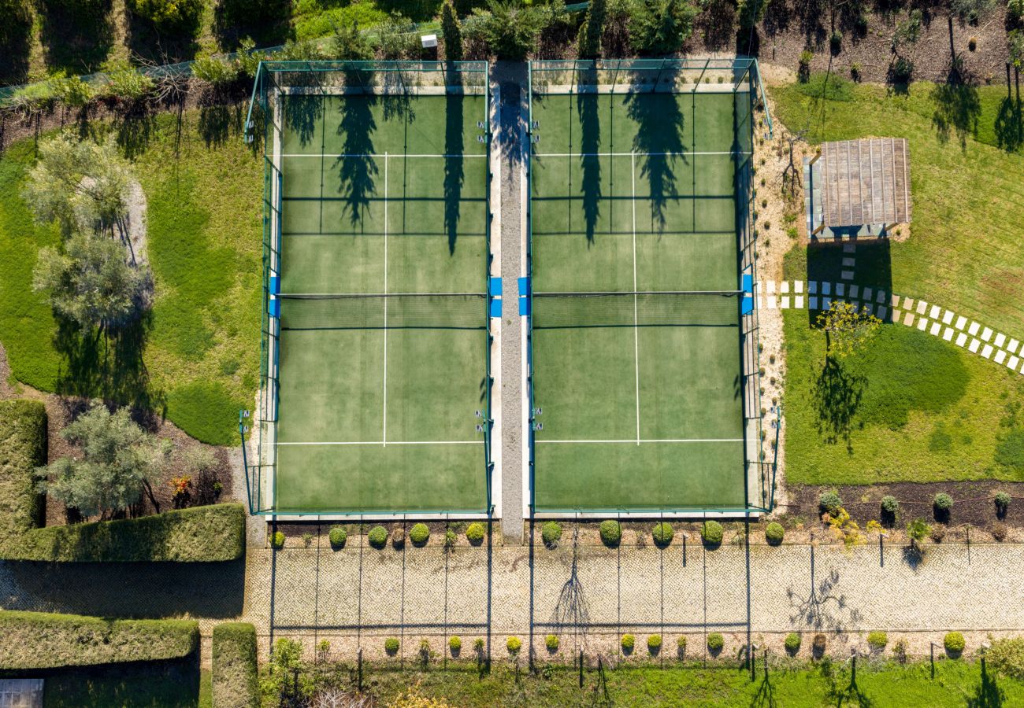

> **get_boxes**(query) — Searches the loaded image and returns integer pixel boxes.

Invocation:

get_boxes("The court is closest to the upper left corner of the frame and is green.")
[238,55,503,521]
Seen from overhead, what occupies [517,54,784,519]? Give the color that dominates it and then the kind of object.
green sports court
